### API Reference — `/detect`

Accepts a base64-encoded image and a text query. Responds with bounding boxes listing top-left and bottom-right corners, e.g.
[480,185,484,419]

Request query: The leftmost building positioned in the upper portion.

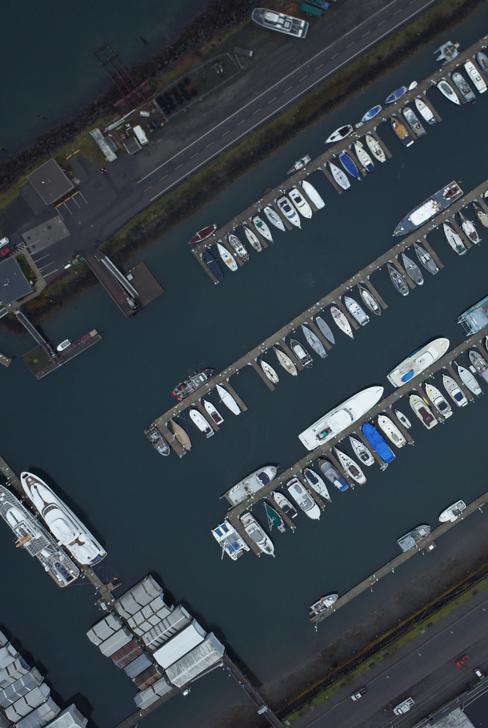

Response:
[0,255,38,306]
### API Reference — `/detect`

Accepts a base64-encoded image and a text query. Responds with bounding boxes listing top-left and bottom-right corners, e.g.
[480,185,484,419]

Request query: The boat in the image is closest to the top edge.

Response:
[251,7,309,38]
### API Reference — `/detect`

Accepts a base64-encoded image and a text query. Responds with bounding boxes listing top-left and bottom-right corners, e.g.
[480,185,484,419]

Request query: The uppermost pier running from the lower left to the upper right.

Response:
[190,38,488,285]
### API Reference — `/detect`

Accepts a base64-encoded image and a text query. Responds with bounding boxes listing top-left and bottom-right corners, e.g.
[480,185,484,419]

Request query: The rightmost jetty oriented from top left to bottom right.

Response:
[221,652,282,728]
